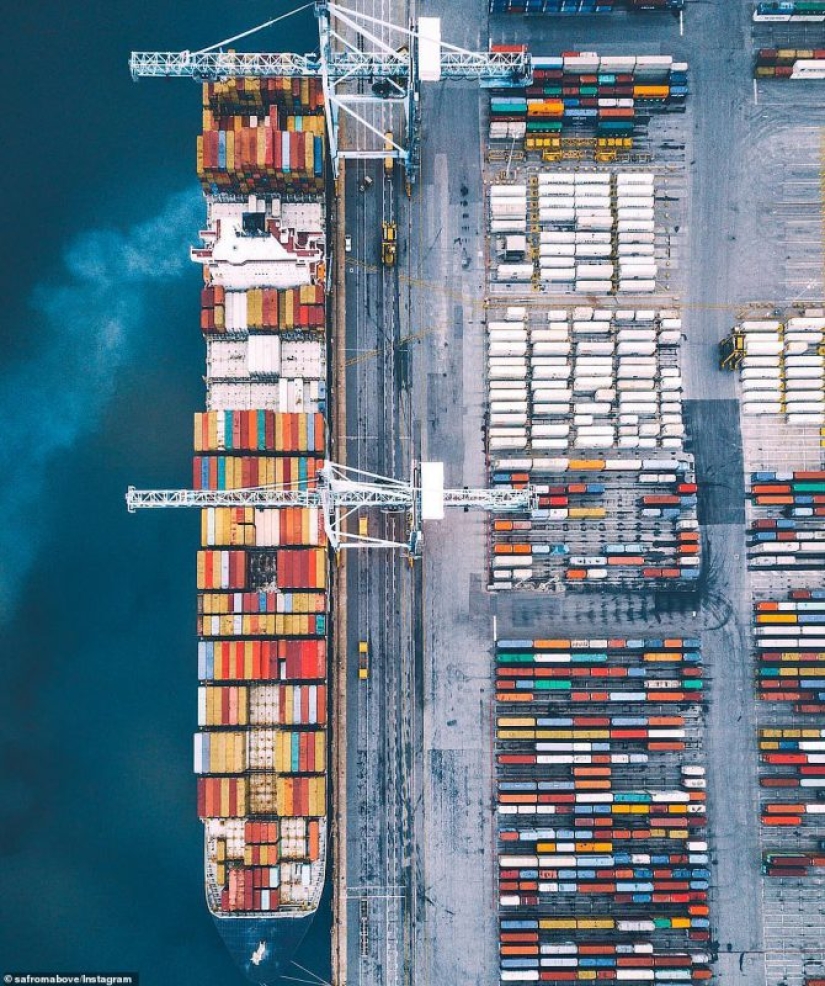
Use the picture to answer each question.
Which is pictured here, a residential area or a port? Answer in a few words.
port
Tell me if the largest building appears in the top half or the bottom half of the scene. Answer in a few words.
top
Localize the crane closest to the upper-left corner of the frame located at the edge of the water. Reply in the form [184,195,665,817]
[131,5,529,188]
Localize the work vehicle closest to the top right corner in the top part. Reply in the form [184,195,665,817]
[722,329,746,369]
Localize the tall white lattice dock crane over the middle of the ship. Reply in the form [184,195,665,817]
[120,458,535,565]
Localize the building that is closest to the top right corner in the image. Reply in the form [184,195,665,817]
[500,235,526,255]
